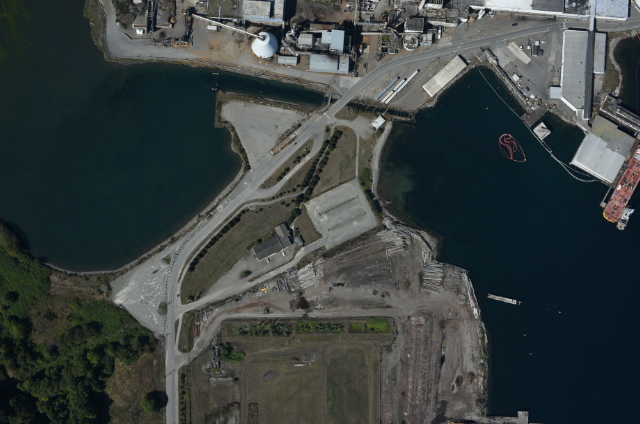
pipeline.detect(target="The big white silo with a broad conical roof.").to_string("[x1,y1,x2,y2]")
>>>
[252,33,279,60]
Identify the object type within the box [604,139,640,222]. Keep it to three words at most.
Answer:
ship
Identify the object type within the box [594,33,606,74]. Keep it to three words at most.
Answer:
building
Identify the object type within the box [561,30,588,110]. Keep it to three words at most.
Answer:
building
